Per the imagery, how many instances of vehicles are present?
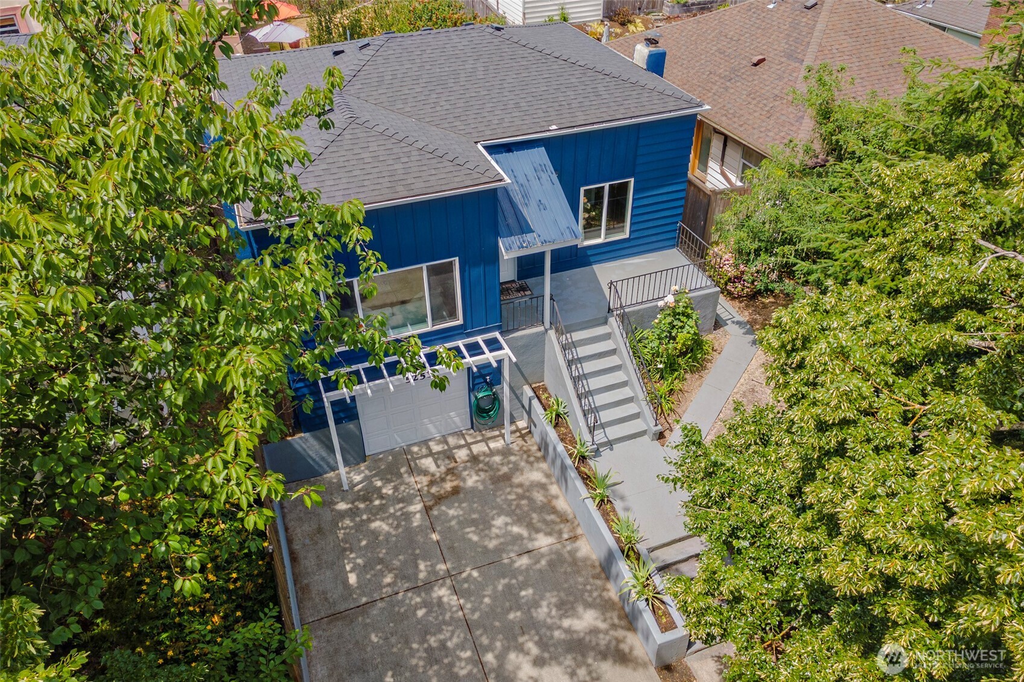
0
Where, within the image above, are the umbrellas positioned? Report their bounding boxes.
[240,0,300,28]
[247,21,314,52]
